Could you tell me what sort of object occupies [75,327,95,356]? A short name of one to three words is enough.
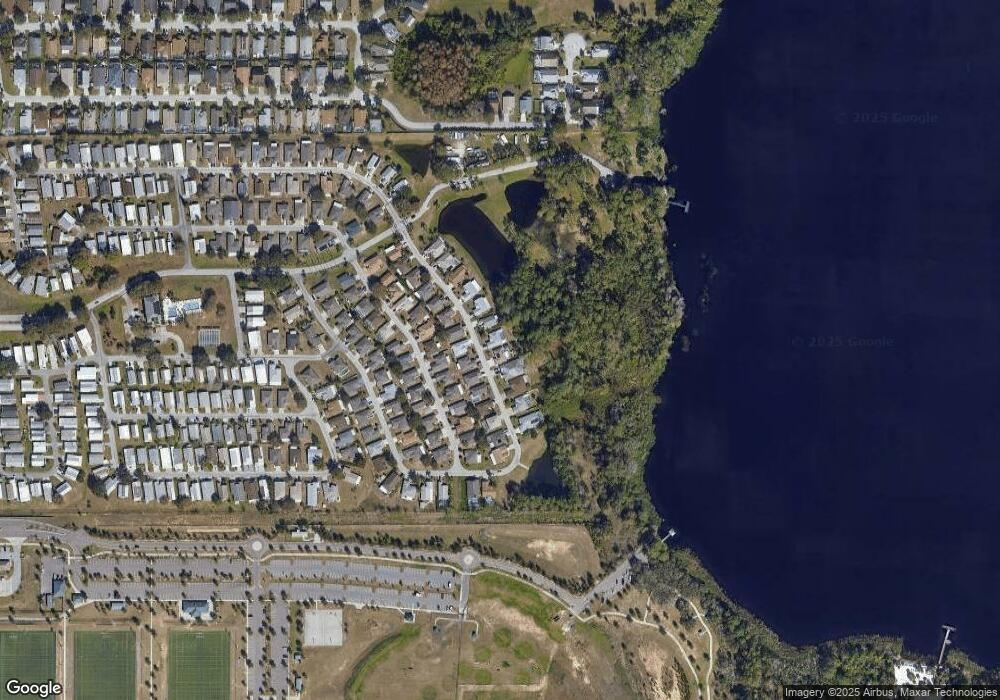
house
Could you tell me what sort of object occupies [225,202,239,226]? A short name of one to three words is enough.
house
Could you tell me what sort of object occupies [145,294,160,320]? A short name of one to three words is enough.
building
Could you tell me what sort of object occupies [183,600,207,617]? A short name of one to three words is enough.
building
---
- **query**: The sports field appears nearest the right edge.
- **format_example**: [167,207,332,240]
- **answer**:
[168,631,230,700]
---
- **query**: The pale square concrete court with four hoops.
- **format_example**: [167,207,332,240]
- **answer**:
[305,609,342,646]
